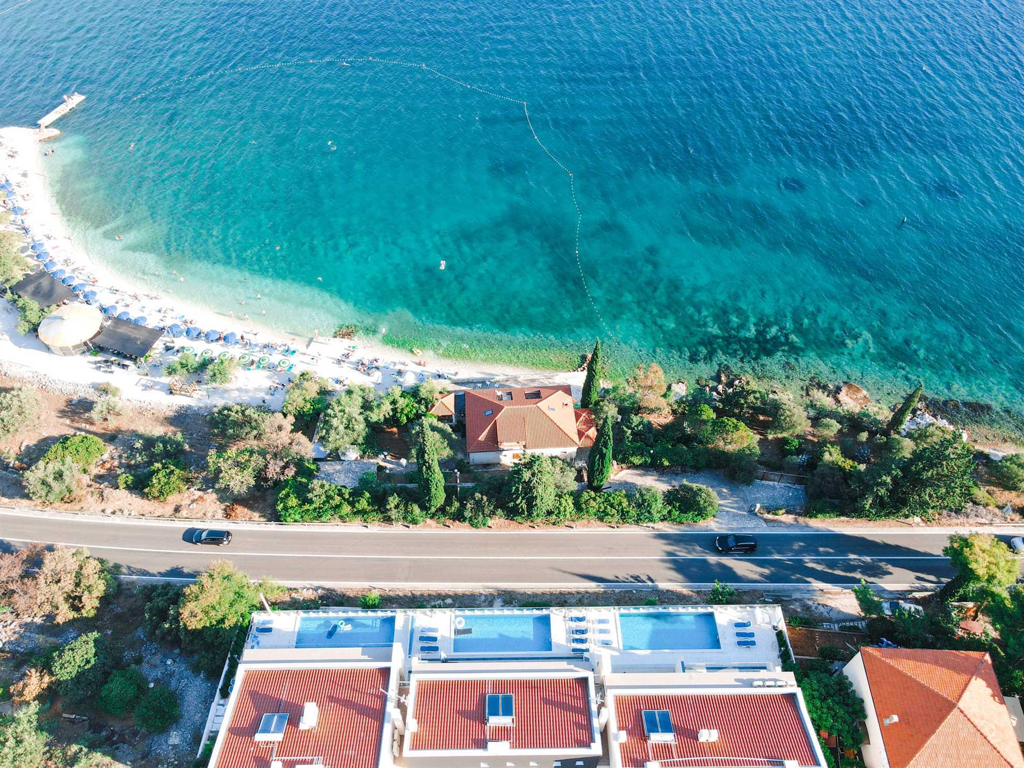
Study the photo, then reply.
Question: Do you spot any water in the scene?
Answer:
Yes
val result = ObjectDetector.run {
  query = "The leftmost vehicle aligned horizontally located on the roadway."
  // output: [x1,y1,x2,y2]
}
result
[187,527,232,548]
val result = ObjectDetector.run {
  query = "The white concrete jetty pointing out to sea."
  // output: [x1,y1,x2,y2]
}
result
[35,92,90,127]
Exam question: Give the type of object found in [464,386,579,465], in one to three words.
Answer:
house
